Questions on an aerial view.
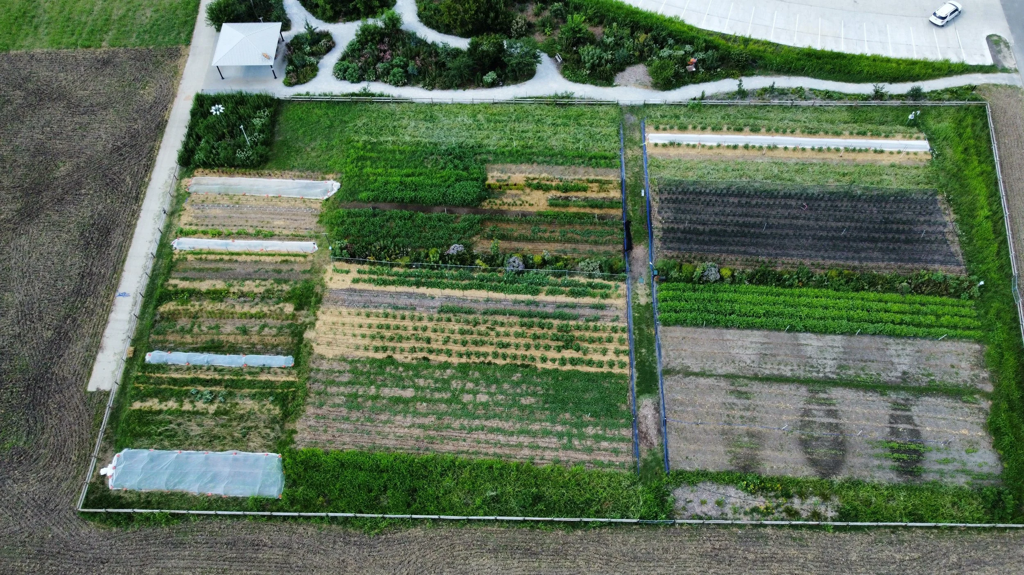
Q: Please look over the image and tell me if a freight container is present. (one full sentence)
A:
No, no freight container is visible in the scene.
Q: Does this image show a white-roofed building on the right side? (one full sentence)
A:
No, no white-roofed building appears on the right side.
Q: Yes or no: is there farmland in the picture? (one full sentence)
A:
Yes, farmland shows up in the scene.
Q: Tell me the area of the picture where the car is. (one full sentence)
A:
The car sits in the top right section of the image.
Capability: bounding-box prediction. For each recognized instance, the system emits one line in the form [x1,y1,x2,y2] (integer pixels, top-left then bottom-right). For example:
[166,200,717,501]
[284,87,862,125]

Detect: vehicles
[932,0,964,25]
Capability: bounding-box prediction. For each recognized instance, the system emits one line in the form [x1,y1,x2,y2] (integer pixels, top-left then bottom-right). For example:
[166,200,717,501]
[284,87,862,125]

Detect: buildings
[209,21,286,79]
